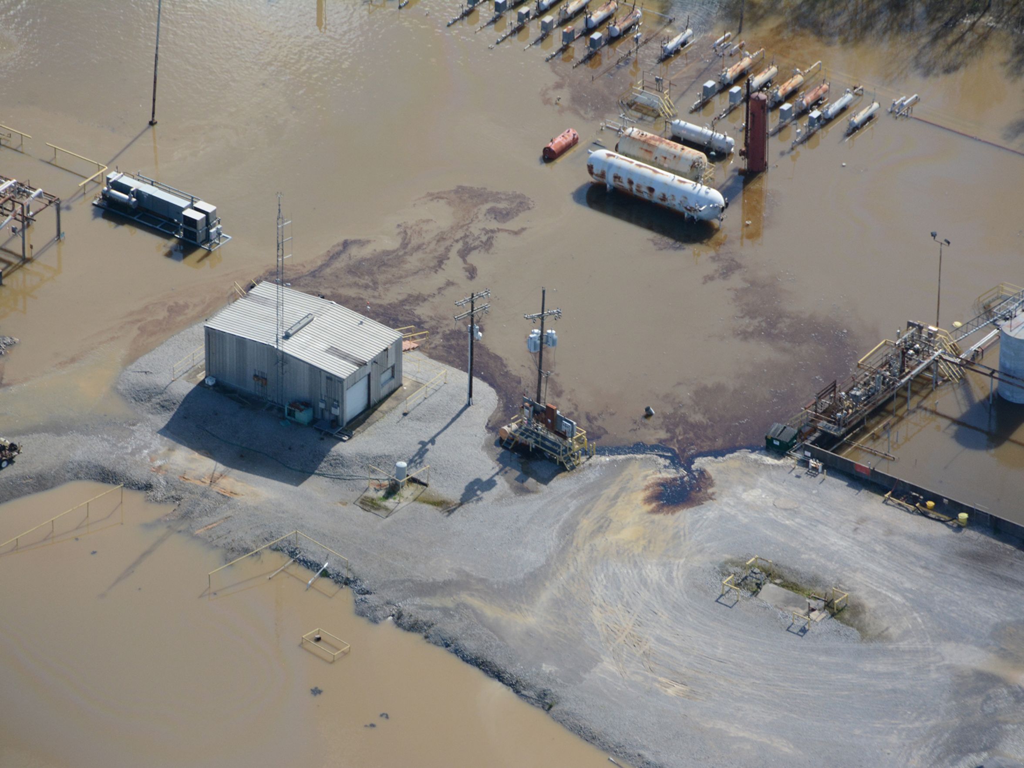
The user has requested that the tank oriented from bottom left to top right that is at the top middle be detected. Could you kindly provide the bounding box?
[543,128,579,159]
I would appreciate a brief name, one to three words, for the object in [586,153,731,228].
storage tank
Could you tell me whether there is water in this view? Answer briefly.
Yes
